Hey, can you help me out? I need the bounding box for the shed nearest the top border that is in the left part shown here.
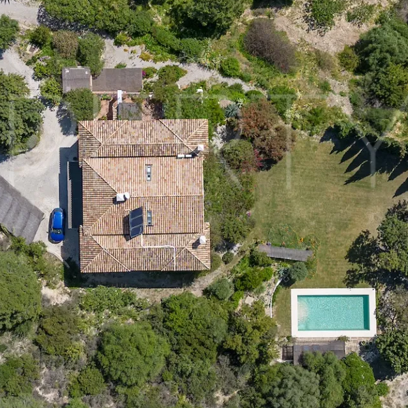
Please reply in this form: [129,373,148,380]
[62,67,154,103]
